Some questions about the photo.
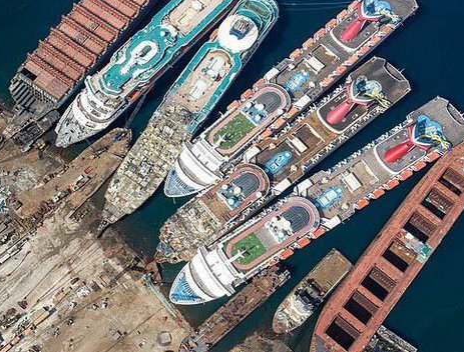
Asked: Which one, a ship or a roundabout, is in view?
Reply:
ship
